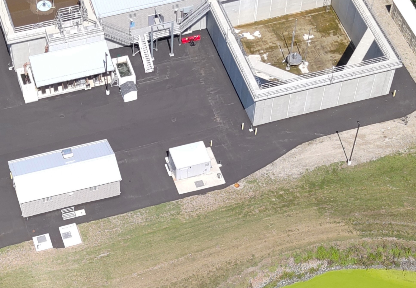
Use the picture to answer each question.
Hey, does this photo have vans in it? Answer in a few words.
No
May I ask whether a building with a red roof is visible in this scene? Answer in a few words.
No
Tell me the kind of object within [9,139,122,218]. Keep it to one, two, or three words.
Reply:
building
